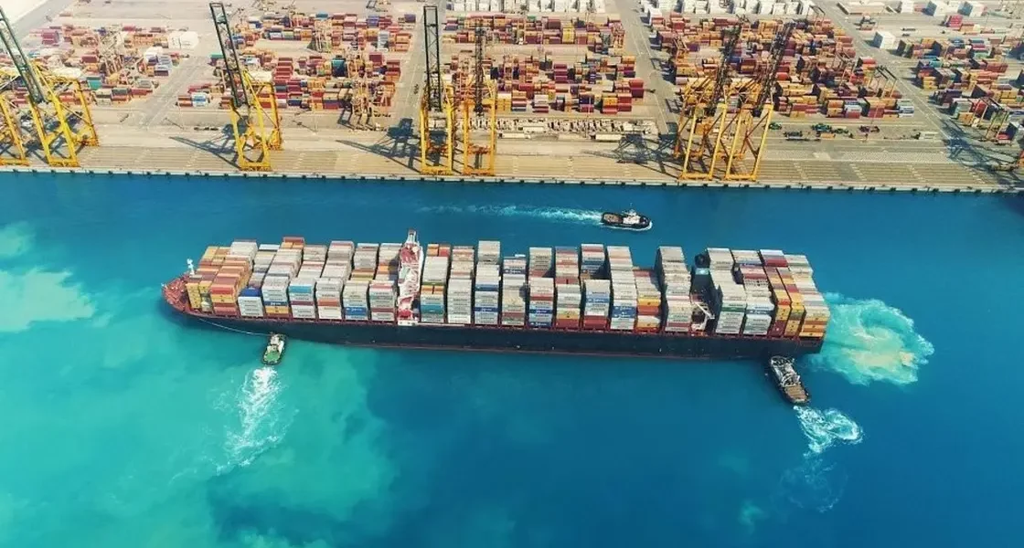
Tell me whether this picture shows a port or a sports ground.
port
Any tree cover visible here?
No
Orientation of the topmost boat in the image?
from left to right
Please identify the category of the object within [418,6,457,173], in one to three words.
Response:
container crane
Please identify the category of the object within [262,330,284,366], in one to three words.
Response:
boat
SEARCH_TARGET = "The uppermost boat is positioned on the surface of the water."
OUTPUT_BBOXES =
[603,206,653,226]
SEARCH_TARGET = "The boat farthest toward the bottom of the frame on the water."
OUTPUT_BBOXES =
[771,352,808,405]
